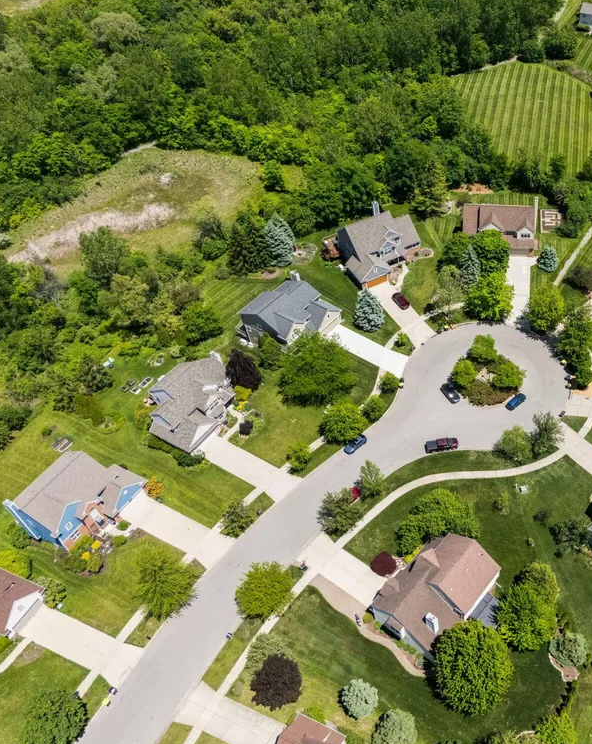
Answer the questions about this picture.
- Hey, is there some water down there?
No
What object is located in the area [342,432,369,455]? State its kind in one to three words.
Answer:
car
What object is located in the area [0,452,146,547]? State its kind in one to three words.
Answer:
house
